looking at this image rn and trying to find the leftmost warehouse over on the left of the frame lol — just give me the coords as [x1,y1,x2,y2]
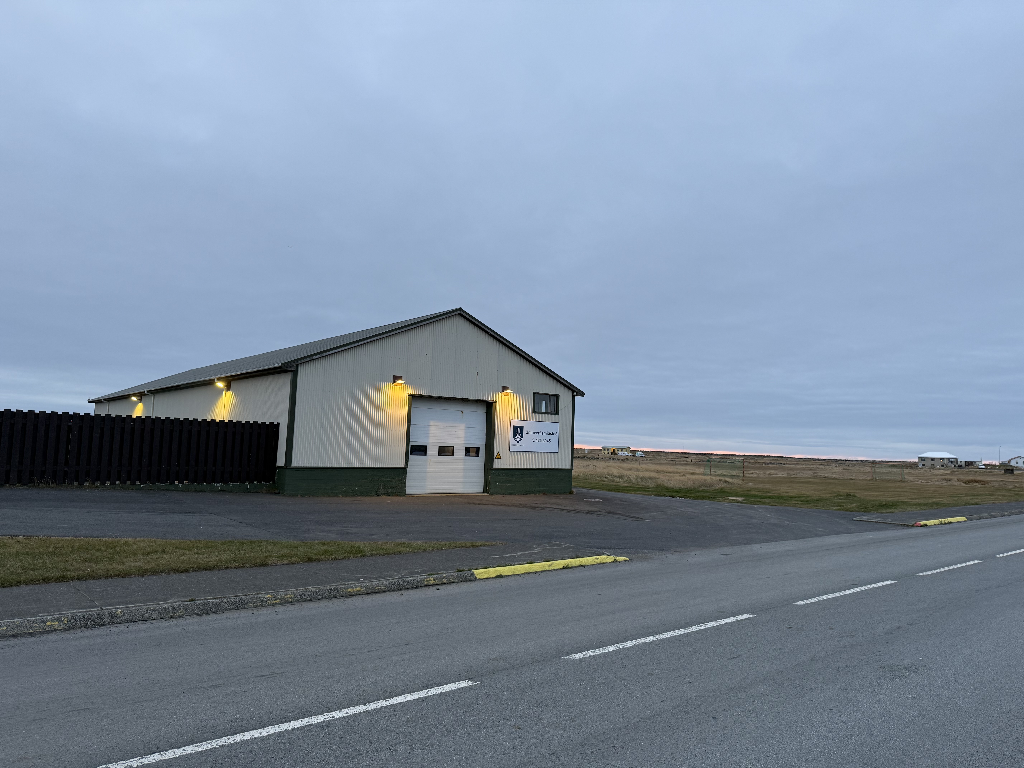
[86,306,586,496]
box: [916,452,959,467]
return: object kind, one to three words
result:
house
